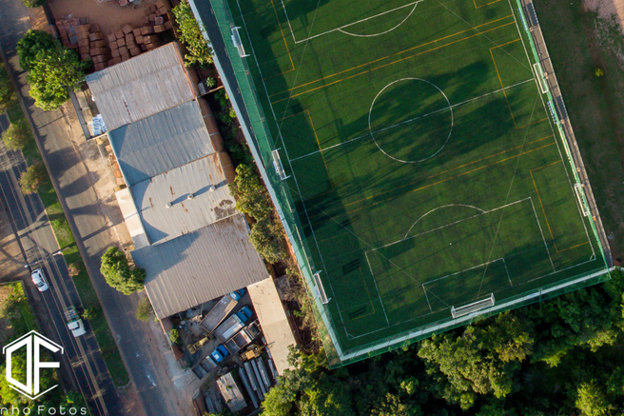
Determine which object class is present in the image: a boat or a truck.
truck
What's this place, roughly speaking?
sports ground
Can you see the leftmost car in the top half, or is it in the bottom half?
bottom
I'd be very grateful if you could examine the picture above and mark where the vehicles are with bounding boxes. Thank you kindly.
[212,302,257,347]
[225,319,264,364]
[65,303,88,339]
[196,287,251,339]
[30,265,51,296]
[240,340,270,366]
[189,342,233,386]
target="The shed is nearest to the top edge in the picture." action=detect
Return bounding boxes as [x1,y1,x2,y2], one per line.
[85,43,203,132]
